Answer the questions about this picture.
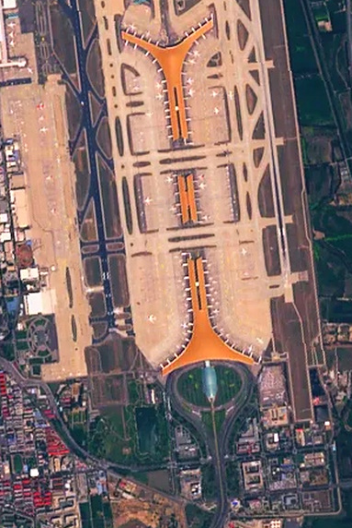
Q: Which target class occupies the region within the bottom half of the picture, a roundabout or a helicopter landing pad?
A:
roundabout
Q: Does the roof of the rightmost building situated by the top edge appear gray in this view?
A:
No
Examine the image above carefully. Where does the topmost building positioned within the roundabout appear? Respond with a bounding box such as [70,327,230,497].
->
[202,361,217,402]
